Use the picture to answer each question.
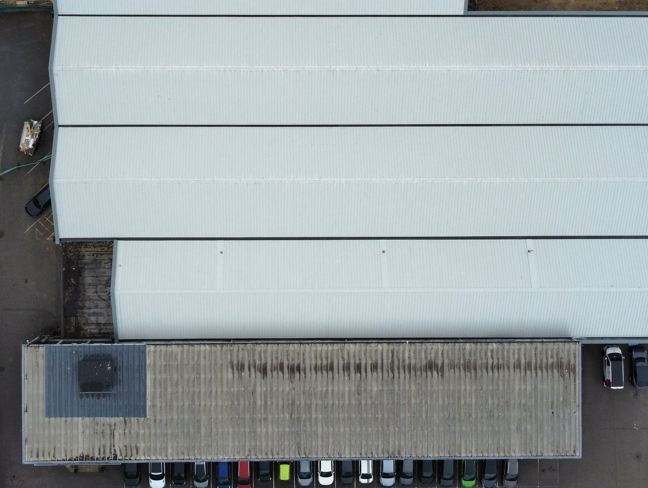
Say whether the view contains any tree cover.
No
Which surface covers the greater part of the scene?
buildings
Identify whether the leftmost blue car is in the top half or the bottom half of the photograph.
bottom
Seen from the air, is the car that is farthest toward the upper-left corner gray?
No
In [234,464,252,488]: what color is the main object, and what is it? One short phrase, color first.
red car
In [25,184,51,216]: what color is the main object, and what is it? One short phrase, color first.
black car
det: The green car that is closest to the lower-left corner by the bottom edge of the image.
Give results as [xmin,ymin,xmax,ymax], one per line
[276,464,293,483]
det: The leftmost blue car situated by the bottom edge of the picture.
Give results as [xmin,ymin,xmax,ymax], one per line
[213,464,233,488]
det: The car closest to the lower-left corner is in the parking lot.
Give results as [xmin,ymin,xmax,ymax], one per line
[122,464,142,487]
